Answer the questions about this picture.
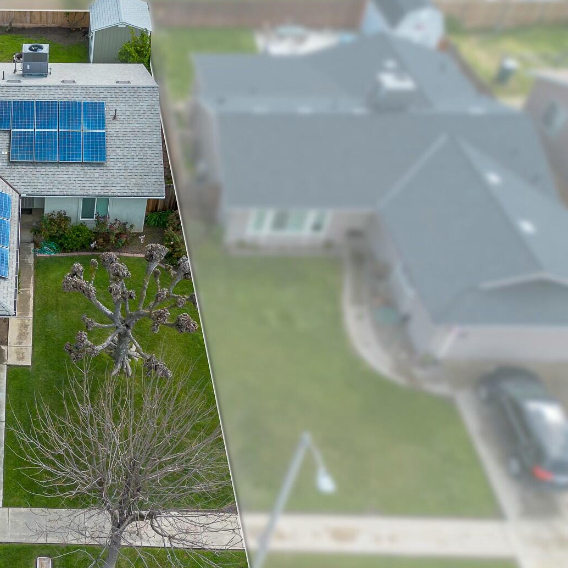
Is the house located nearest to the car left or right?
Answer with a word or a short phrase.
right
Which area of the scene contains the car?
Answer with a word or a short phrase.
bottom right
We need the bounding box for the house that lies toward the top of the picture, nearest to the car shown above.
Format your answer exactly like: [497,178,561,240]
[188,25,568,365]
